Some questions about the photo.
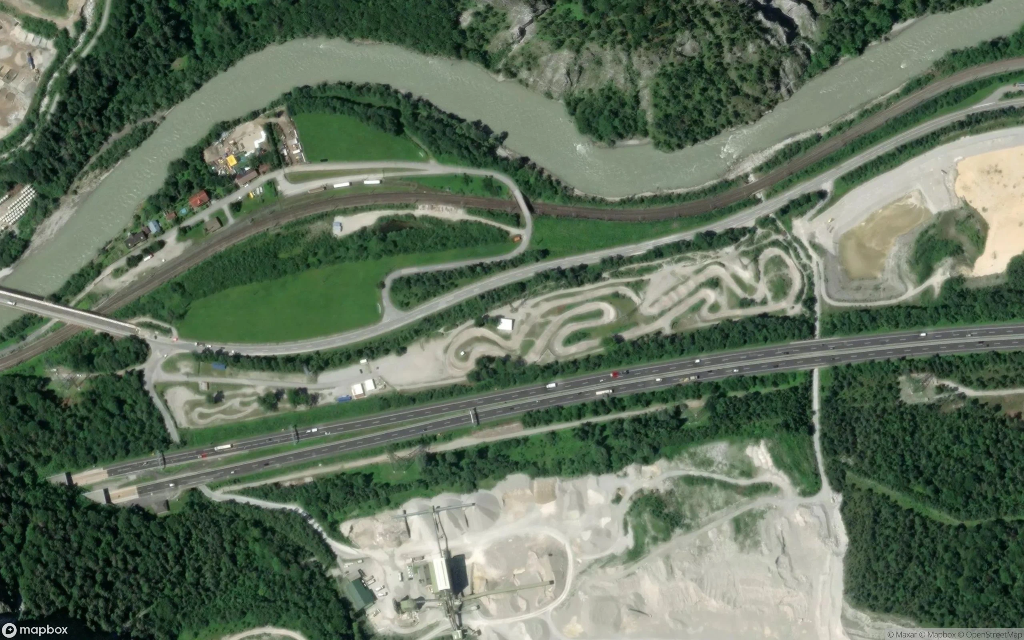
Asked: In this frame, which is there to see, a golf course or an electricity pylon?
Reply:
electricity pylon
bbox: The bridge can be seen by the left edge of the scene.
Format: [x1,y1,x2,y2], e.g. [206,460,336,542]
[0,291,138,338]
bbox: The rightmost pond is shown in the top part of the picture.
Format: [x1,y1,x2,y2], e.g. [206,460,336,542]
[838,195,931,280]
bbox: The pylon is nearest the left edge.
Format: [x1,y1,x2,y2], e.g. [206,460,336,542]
[55,361,80,392]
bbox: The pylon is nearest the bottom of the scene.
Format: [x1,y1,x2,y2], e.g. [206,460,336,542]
[388,441,405,473]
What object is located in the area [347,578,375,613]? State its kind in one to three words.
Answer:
building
